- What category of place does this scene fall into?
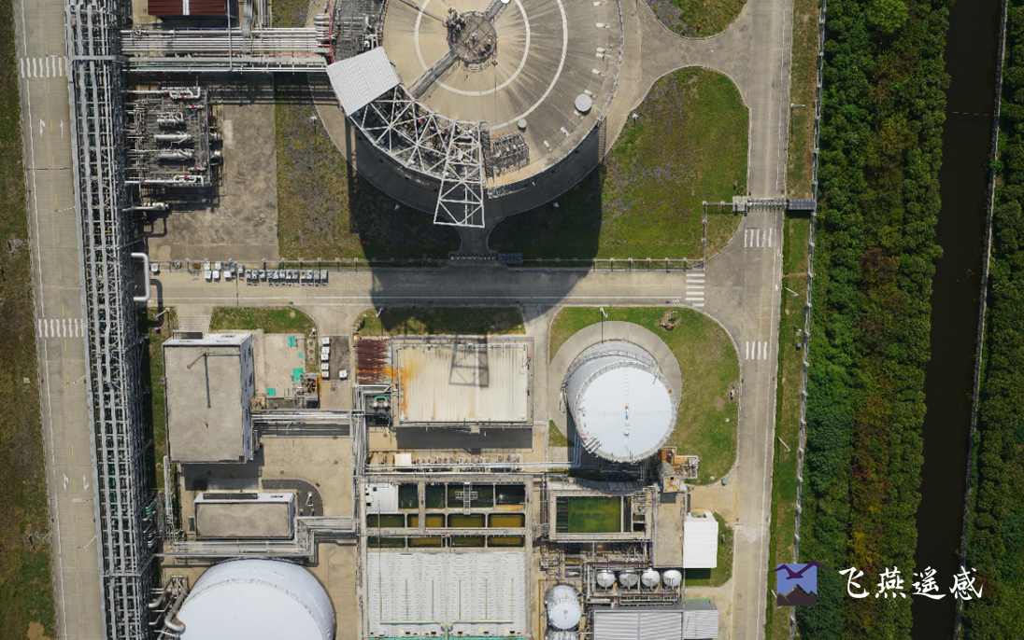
industrial area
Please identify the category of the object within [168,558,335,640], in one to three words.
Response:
storage tank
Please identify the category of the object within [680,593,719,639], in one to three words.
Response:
shed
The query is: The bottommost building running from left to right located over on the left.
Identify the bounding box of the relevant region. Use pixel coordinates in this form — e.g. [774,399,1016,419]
[188,493,295,538]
